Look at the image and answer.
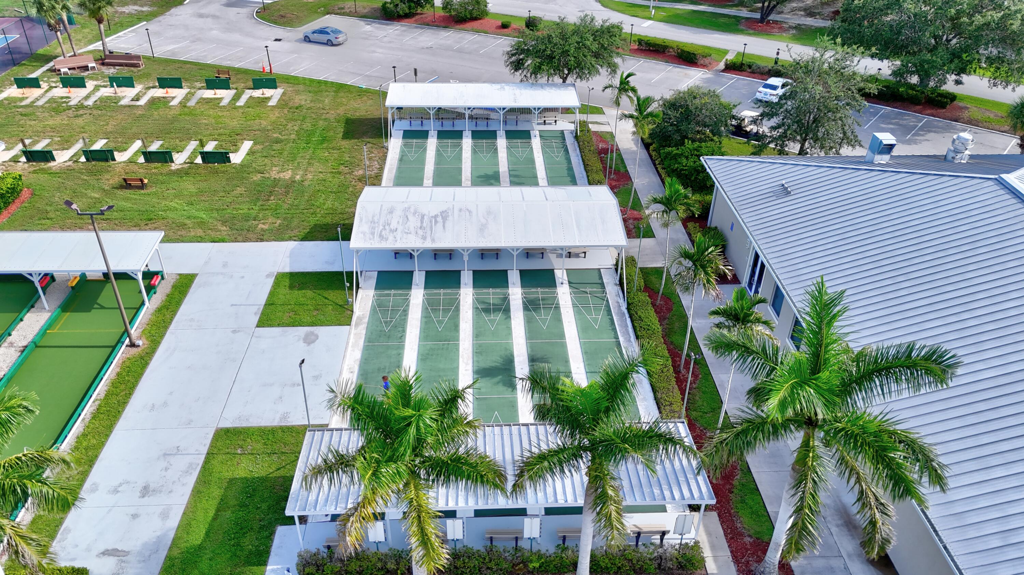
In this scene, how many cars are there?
2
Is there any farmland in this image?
No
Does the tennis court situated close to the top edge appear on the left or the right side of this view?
left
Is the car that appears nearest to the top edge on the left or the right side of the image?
left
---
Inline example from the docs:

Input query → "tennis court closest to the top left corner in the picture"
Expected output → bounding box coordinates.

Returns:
[0,17,80,75]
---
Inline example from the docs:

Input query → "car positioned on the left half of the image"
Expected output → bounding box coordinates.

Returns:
[299,25,348,46]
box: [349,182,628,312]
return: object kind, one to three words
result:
building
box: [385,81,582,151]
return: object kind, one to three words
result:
building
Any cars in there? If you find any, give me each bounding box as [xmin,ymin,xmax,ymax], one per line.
[760,78,800,104]
[299,25,348,46]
